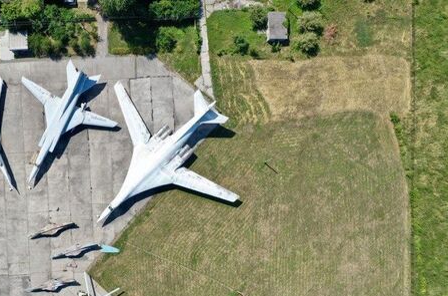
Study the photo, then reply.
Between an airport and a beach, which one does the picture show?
airport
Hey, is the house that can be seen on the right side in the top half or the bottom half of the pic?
top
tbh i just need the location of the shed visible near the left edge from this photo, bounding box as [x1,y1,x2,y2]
[10,33,28,52]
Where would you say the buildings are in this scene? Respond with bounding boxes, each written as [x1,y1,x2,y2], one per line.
[10,33,28,52]
[266,12,287,41]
